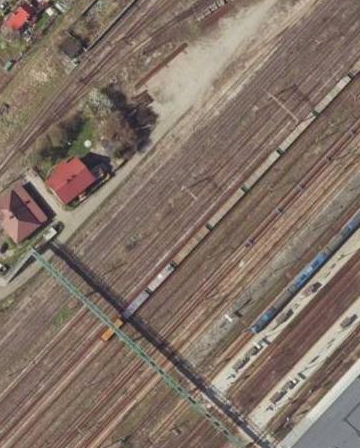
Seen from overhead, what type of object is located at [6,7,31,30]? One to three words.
house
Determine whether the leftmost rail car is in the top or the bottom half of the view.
bottom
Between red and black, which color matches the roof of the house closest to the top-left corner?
red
